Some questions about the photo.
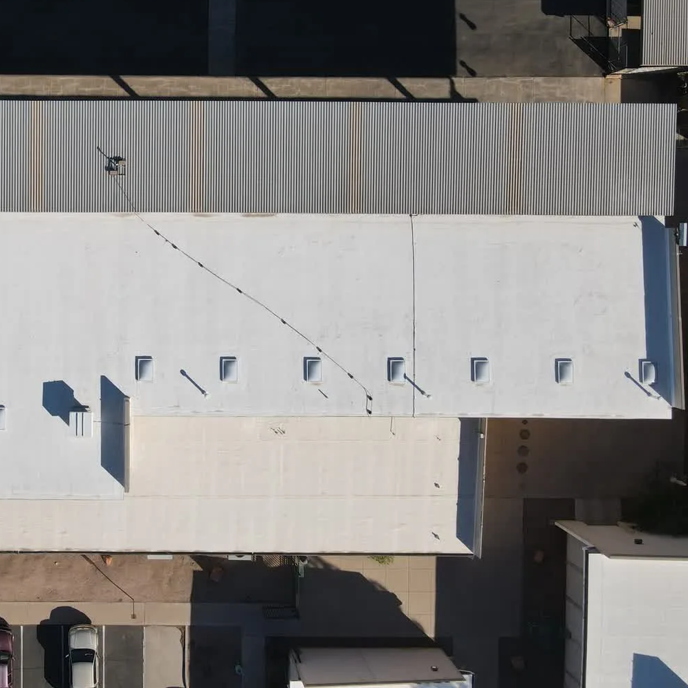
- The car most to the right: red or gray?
gray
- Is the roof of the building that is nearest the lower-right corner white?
Yes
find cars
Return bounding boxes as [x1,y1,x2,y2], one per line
[65,620,102,688]
[0,624,17,688]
